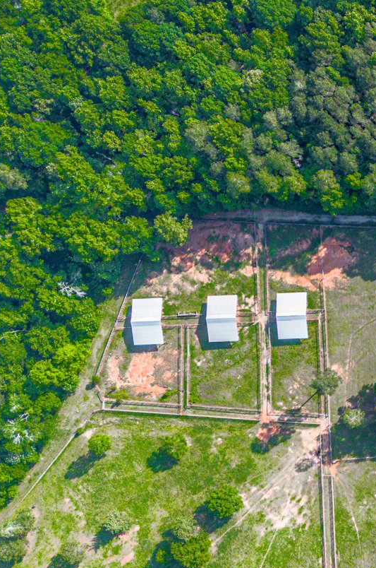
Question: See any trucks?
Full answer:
No, there is no truck in the image.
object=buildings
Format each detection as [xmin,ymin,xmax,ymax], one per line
[276,292,309,339]
[130,298,166,345]
[206,294,240,342]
